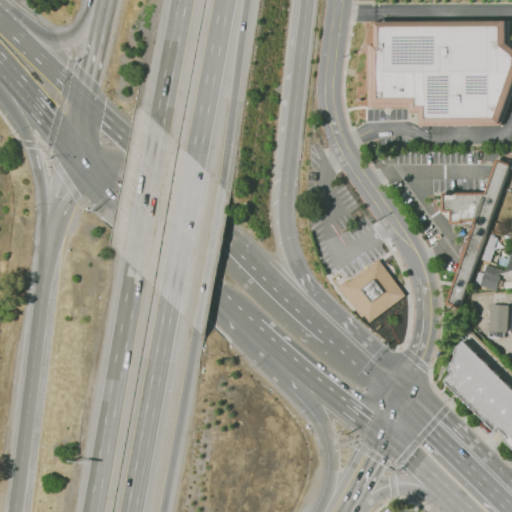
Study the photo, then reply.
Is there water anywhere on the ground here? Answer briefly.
No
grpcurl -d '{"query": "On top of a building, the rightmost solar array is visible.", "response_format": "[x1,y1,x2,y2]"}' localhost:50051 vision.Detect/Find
[466,76,487,94]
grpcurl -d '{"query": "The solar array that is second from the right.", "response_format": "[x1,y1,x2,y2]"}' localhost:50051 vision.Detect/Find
[428,76,448,114]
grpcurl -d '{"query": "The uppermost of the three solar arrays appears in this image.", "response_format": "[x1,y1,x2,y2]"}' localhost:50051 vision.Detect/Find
[392,36,434,64]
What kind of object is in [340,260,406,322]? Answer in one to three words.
building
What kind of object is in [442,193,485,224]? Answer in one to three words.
building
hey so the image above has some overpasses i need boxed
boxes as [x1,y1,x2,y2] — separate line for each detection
[109,105,232,334]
